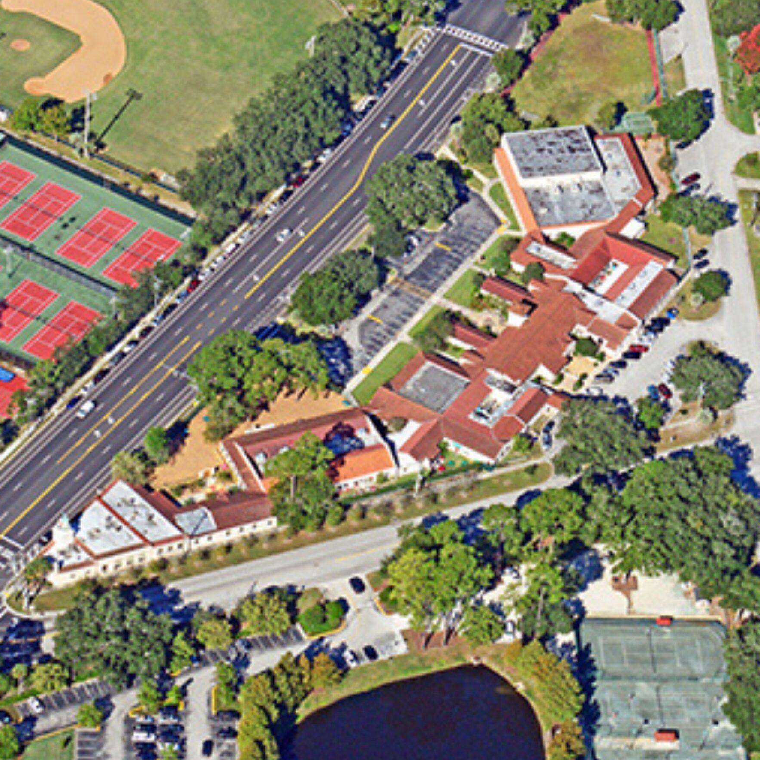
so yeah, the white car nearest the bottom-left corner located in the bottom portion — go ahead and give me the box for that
[29,695,43,712]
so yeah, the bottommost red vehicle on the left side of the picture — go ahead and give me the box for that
[187,280,200,293]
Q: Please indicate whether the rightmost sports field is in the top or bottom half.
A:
top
